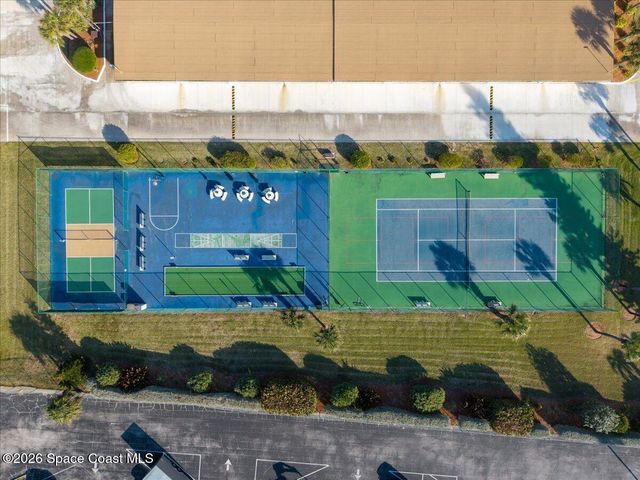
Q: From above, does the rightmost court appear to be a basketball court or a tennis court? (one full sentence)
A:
Looking closely, the rightmost court is a tennis court.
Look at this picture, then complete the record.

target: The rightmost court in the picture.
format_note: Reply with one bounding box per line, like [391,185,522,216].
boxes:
[329,171,605,309]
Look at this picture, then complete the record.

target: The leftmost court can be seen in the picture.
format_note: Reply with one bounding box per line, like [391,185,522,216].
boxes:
[66,188,114,292]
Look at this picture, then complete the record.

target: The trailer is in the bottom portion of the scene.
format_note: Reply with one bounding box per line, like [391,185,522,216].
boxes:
[144,456,191,480]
